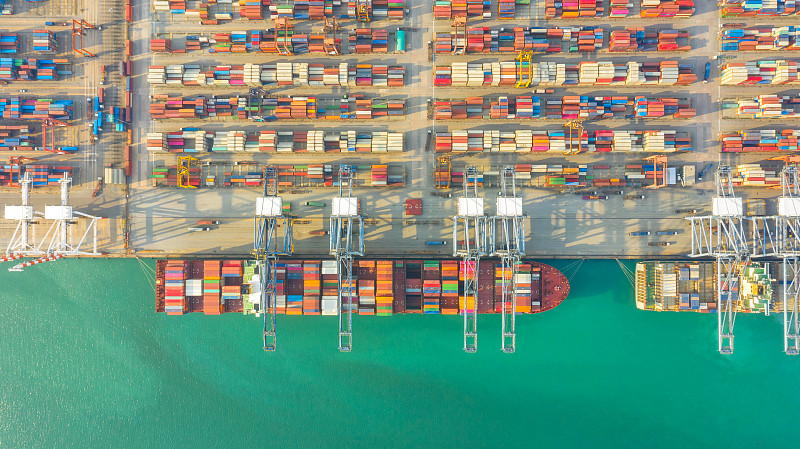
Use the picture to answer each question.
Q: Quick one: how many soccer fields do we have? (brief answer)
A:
none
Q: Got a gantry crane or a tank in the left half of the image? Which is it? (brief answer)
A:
gantry crane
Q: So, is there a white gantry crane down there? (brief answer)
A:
Yes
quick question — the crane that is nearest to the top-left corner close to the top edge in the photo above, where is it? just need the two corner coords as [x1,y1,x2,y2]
[71,16,102,57]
